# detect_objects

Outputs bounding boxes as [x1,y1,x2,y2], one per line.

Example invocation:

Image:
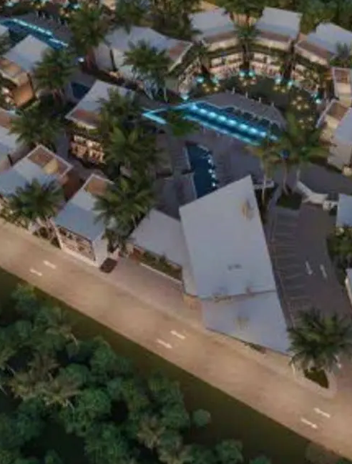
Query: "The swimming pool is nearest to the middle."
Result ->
[187,144,220,200]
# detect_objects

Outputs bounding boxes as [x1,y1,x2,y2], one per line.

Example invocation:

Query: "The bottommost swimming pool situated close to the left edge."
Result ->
[0,19,72,55]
